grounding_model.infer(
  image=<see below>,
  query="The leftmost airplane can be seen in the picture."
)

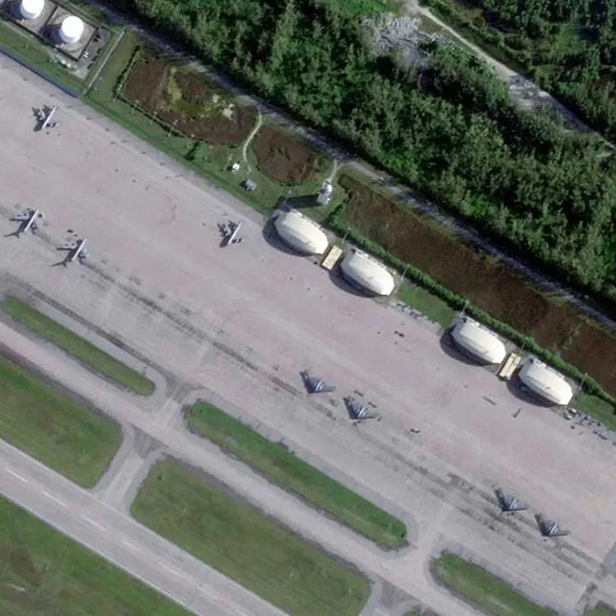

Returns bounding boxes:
[10,209,41,237]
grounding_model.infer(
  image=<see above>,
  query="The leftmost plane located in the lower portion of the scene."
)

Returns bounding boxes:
[303,371,336,392]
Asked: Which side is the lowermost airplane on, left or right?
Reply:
right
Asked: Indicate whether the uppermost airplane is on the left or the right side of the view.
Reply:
left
